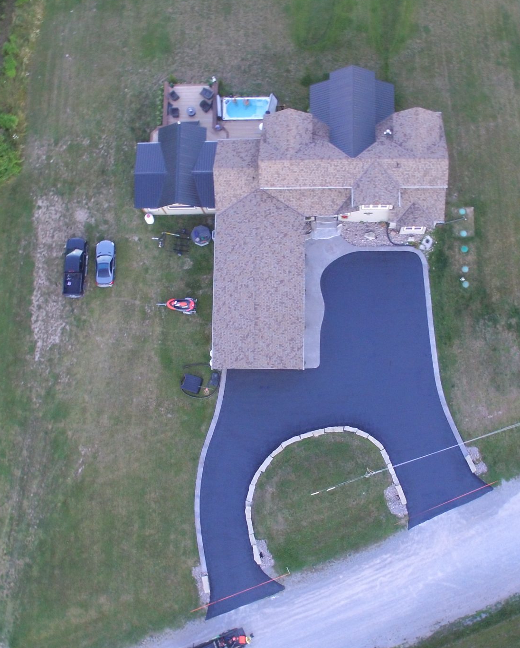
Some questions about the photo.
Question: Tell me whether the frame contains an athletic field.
No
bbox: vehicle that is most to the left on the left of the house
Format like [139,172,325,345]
[62,239,90,300]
